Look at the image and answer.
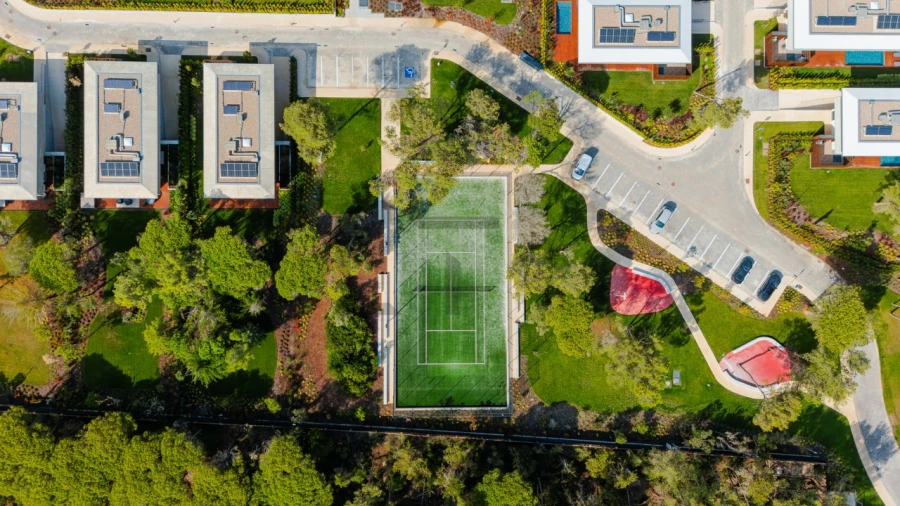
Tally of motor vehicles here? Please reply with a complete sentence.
The picture shows 5 motor vehicles.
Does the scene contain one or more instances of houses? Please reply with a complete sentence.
Yes, a house can be made out from above.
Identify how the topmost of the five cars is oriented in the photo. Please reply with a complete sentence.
In this picture, the topmost of the five cars is oriented diagonally.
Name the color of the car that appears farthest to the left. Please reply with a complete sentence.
The car that appears farthest to the left looks blue in the image.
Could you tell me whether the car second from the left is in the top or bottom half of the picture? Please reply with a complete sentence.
You can find the car second from the left in the top half.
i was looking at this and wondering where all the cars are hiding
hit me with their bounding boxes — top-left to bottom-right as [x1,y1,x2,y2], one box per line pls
[519,51,544,73]
[651,204,674,232]
[572,151,594,179]
[730,257,753,284]
[758,271,780,300]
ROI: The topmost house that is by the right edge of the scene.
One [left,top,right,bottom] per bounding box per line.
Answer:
[764,0,900,67]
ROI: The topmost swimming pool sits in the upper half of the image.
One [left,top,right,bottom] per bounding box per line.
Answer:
[555,1,572,34]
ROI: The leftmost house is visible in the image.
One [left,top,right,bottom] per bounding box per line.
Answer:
[0,83,74,210]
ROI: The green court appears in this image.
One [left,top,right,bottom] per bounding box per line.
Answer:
[395,176,508,409]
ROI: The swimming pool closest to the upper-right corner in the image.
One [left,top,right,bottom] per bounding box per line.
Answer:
[845,52,885,66]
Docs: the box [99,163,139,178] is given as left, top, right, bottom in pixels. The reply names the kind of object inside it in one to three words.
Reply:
solar panel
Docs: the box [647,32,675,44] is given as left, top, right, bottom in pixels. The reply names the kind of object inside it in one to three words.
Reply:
solar panel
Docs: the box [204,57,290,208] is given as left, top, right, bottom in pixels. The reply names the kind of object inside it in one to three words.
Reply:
house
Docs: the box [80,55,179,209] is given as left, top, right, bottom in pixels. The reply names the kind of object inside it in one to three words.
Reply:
house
